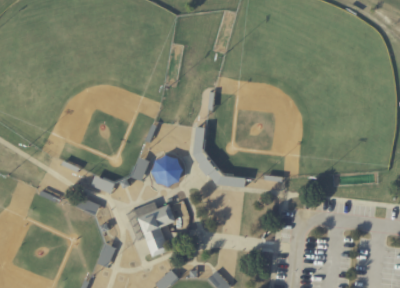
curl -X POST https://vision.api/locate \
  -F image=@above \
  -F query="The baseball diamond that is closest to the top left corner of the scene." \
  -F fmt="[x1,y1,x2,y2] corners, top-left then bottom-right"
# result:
[0,0,176,180]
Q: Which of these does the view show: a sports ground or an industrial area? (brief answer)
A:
sports ground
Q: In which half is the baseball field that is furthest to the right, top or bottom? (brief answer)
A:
top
